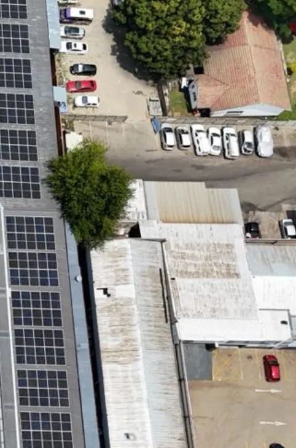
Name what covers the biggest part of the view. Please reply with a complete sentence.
The scene is dominated by buildings.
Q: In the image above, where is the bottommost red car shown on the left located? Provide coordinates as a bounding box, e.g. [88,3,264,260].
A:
[67,78,99,92]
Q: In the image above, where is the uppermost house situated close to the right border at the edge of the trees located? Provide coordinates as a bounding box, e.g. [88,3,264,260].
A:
[196,10,289,115]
